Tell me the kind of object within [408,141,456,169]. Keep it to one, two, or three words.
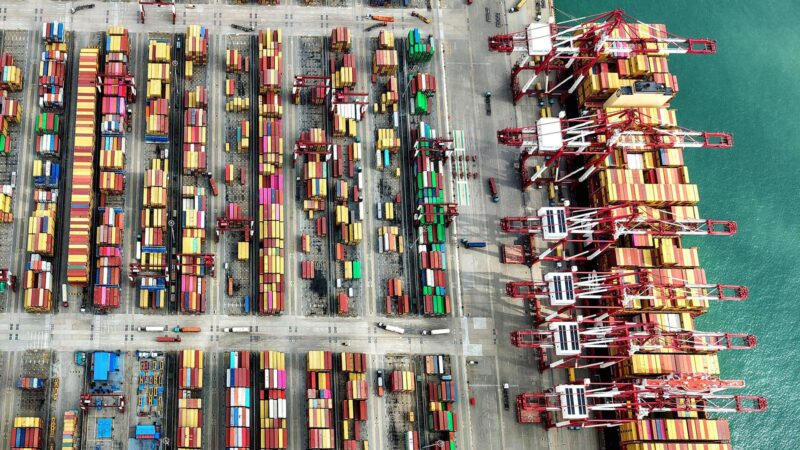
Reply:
crane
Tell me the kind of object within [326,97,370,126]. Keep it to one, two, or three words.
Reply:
crane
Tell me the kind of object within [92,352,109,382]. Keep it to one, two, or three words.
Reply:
building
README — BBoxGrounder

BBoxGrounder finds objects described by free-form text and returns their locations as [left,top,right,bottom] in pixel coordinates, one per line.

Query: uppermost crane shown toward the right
[485,11,720,108]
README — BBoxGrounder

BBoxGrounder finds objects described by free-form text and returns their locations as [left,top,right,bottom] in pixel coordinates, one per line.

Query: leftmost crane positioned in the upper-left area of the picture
[95,80,136,109]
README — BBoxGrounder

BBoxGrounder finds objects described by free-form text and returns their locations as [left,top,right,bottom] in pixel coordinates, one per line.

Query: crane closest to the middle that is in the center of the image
[412,207,459,233]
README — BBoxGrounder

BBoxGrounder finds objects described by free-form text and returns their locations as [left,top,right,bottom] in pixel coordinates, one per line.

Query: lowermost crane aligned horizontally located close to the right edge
[513,371,773,441]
